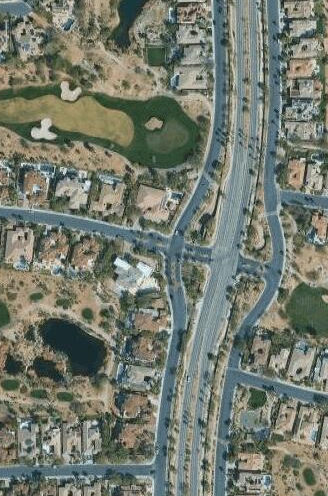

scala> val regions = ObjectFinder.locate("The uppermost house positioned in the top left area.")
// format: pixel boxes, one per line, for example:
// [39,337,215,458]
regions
[48,0,77,25]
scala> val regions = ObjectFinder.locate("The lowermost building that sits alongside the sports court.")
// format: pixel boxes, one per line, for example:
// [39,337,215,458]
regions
[172,67,207,89]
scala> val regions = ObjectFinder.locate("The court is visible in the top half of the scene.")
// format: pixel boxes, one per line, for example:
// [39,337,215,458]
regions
[146,46,167,66]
